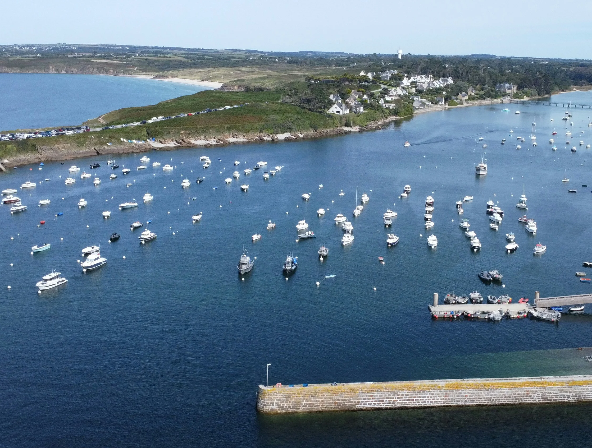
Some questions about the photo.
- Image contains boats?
Yes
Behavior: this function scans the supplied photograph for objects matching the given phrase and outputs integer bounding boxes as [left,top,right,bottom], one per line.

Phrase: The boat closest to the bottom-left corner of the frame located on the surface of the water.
[40,274,68,291]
